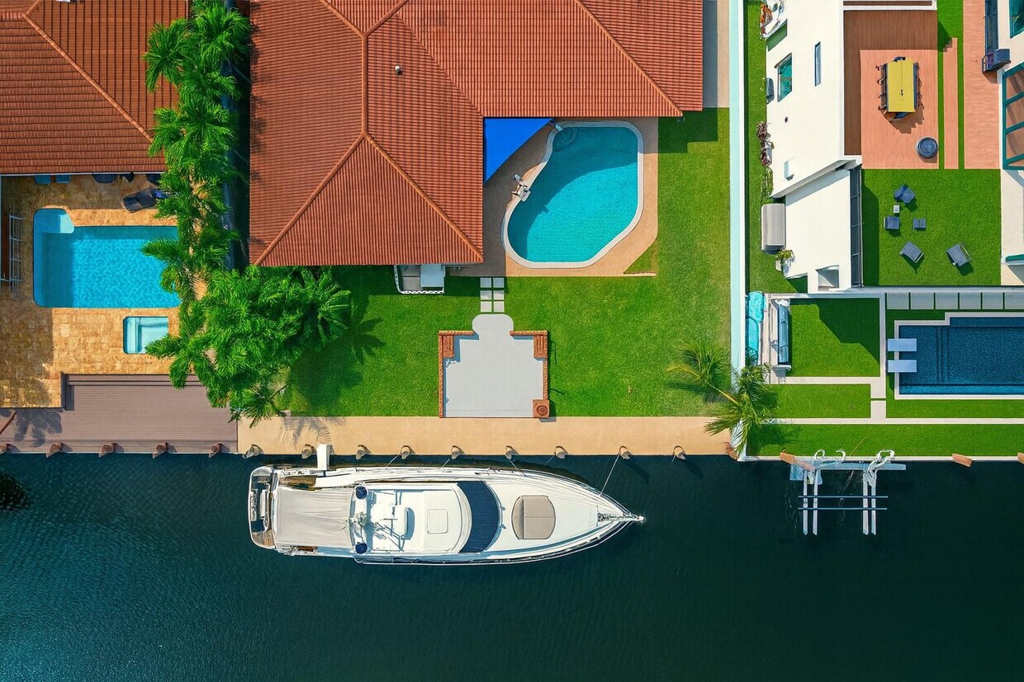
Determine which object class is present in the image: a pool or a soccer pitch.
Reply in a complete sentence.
The image shows a pool.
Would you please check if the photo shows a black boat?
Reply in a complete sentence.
No, there isn't any black boat down there.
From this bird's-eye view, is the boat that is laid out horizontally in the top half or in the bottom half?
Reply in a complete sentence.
The boat that is laid out horizontally sits in the bottom half of the picture.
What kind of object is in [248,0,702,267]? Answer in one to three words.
house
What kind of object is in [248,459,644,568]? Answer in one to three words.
boat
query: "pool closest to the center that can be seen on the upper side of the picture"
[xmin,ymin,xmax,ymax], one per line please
[503,121,643,267]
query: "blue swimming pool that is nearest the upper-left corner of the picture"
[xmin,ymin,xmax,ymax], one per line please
[34,208,180,308]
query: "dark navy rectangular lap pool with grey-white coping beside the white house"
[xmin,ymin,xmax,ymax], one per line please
[894,312,1024,400]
